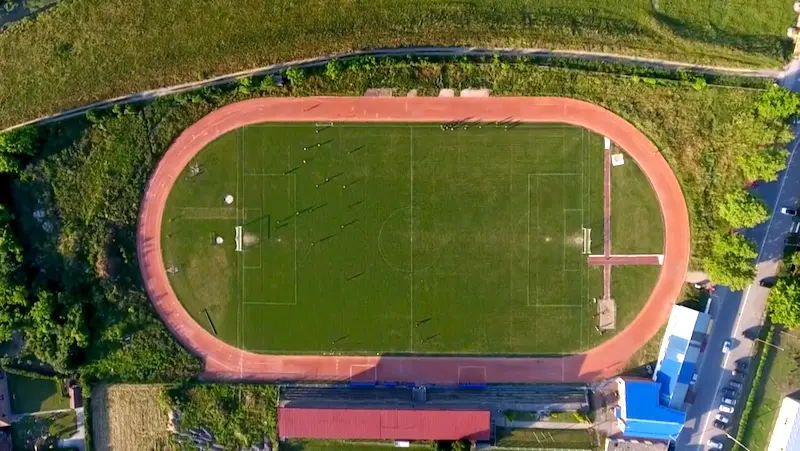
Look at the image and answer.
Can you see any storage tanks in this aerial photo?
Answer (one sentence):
No, I can't see a single storage tank in this photo.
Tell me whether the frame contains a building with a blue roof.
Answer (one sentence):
Yes, this view includes a building with a blue roof.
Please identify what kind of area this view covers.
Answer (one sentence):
What you see here is a sports ground.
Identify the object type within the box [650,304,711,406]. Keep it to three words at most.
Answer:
building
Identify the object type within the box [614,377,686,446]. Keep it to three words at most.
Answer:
building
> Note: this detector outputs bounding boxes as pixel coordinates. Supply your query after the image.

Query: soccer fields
[238,126,590,351]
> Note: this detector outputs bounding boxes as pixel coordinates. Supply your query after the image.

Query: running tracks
[138,98,692,381]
